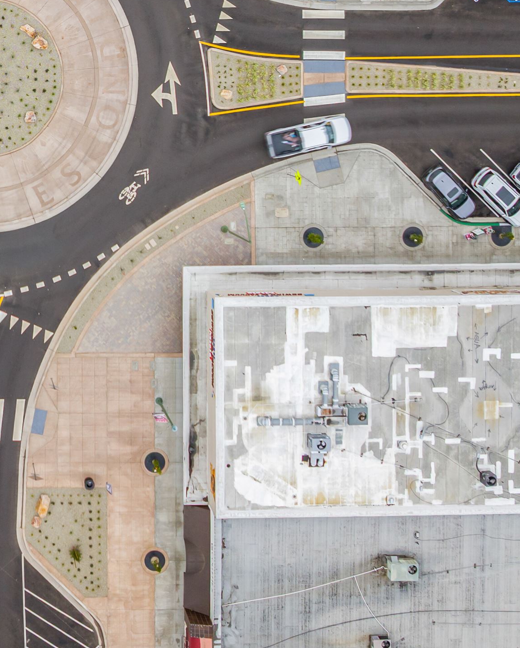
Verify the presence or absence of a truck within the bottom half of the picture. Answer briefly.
No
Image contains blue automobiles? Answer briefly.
No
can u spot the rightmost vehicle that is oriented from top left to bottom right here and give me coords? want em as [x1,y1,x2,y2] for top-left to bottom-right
[469,163,520,229]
